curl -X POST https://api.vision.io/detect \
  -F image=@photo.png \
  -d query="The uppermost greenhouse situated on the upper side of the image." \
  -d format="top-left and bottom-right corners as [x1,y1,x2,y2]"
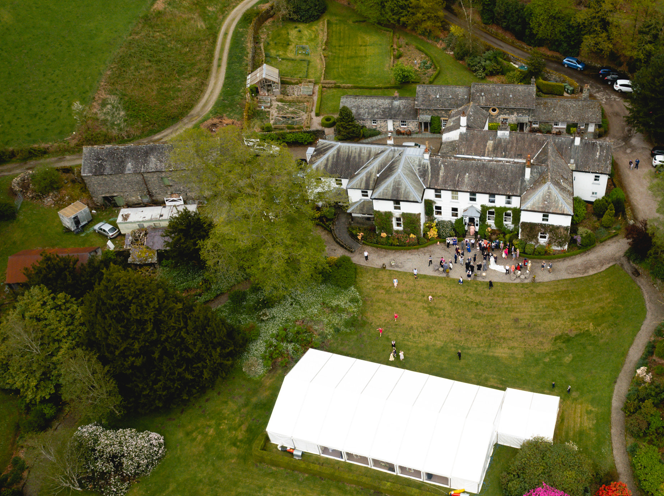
[250,62,281,97]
